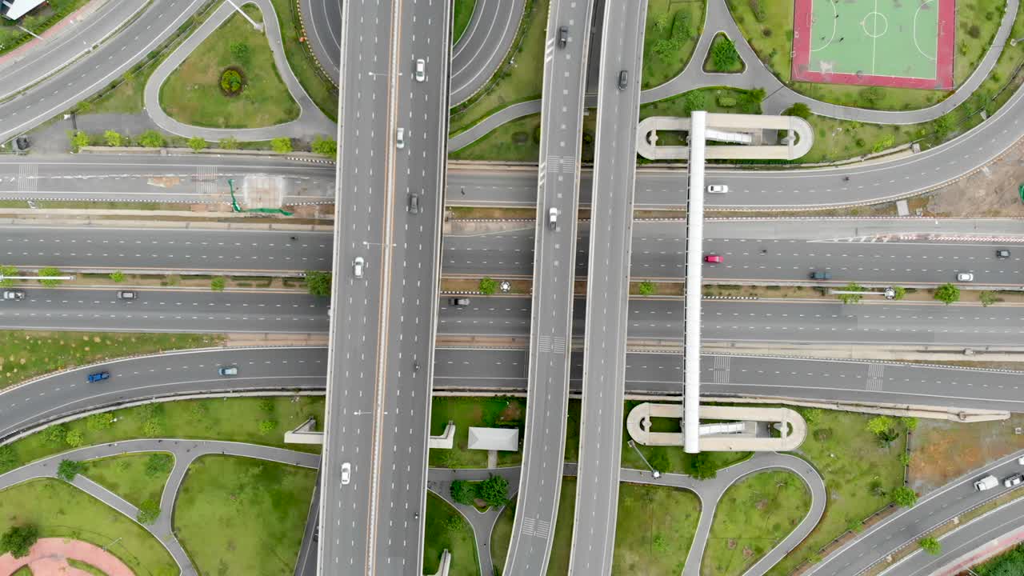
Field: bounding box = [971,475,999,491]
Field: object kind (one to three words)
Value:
vehicle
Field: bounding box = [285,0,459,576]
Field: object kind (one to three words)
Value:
overpass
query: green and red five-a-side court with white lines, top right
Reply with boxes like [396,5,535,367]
[791,0,957,90]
